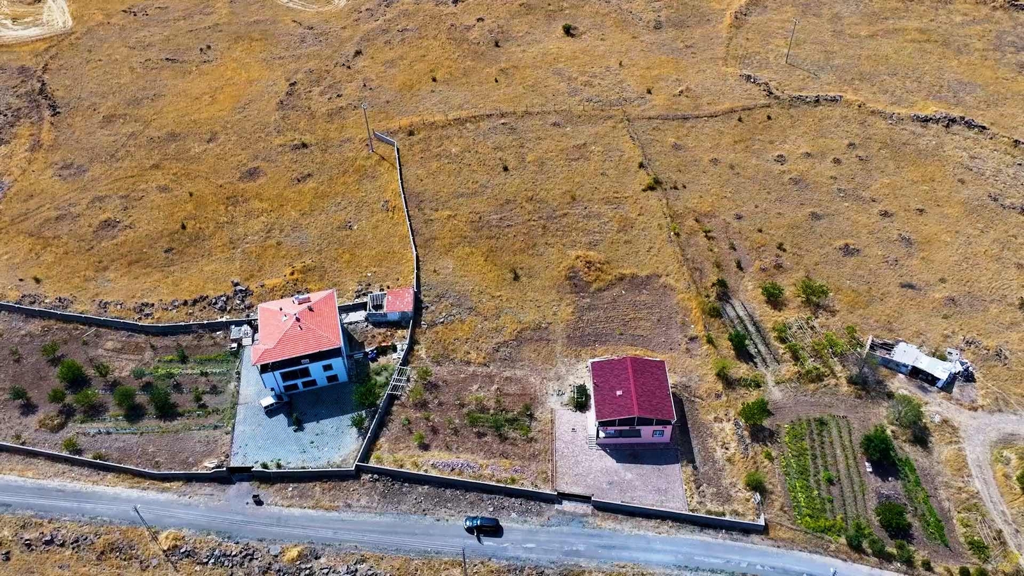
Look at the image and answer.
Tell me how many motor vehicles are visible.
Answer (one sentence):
In total, 2 motor vehicles can be seen.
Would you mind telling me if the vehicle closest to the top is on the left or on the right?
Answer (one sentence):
It is on the left.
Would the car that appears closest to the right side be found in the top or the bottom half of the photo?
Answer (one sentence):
The car that appears closest to the right side is in the bottom half of the image.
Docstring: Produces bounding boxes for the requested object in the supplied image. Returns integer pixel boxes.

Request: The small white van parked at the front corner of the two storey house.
[258,395,291,415]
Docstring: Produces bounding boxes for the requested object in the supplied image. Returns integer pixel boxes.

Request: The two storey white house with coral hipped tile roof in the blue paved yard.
[248,288,348,396]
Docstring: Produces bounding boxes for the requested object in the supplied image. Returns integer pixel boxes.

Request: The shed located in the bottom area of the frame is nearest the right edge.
[862,338,966,392]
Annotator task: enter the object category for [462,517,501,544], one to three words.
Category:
car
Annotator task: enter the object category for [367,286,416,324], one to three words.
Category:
shed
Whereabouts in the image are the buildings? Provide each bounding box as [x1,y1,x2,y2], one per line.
[367,286,416,324]
[585,355,678,450]
[862,338,966,392]
[248,288,348,396]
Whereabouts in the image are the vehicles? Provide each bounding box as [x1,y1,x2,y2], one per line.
[258,395,291,415]
[462,517,501,544]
